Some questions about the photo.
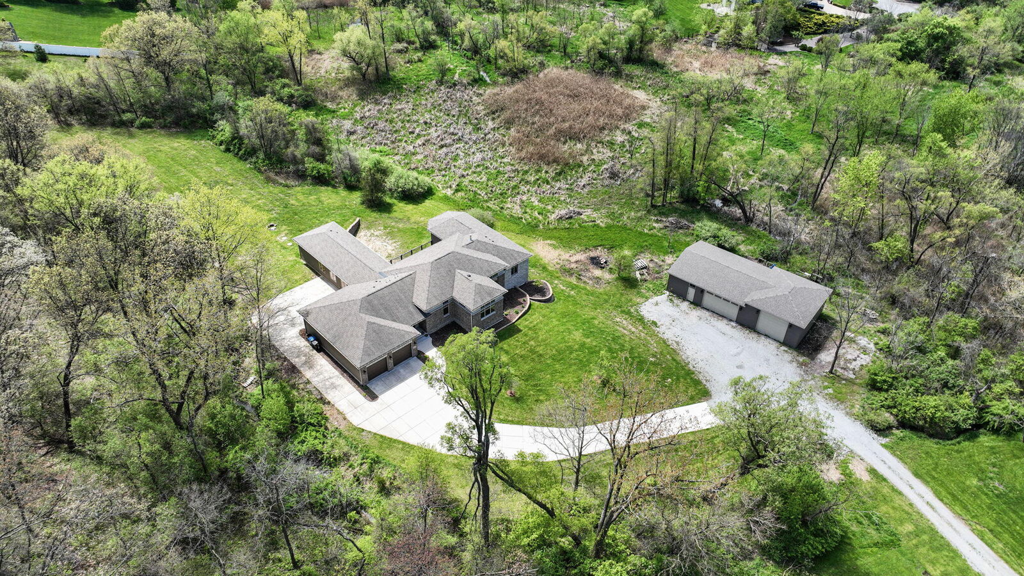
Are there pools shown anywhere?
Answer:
No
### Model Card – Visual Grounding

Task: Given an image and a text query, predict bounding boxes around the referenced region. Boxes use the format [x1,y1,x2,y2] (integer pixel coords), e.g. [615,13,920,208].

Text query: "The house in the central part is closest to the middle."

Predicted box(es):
[291,211,535,385]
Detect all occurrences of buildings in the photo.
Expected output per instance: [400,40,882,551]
[291,211,535,385]
[0,14,18,39]
[666,241,834,347]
